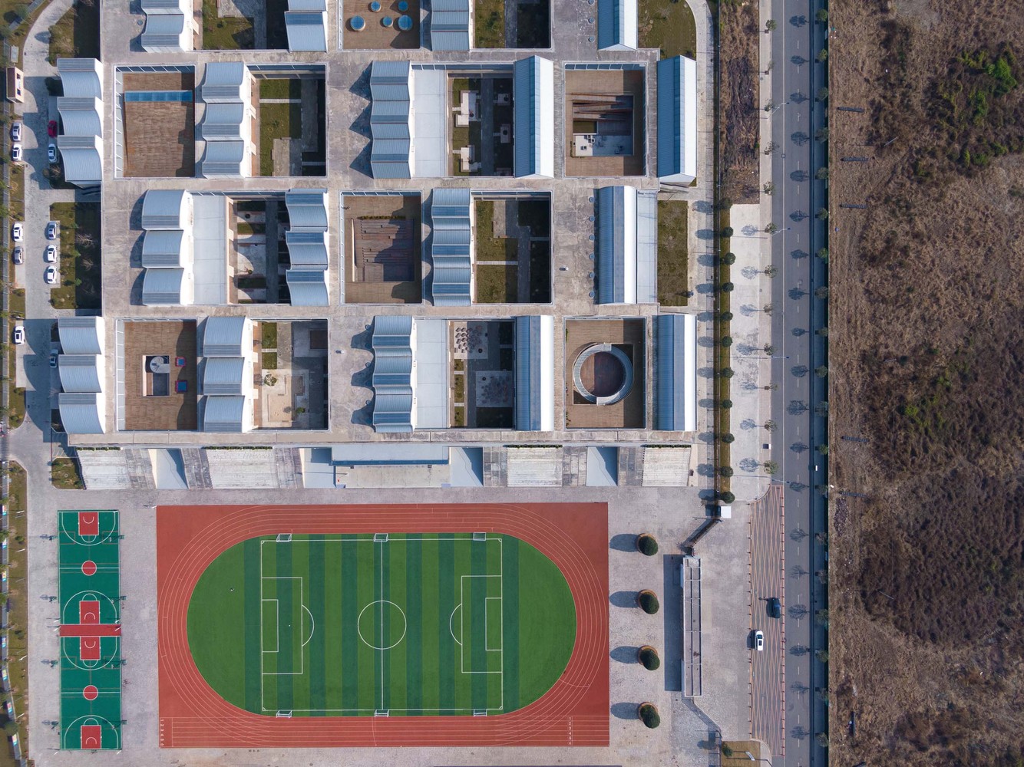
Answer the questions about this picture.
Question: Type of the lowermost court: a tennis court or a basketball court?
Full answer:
It turns out the lowermost court is a basketball court.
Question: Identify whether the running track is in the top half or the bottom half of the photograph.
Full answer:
It is in the bottom half that the running track appears.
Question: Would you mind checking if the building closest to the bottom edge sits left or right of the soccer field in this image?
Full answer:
The soccer field has the building closest to the bottom edge on its right side.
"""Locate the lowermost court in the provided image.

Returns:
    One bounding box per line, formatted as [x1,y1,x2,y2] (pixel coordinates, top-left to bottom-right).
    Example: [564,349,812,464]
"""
[58,636,122,750]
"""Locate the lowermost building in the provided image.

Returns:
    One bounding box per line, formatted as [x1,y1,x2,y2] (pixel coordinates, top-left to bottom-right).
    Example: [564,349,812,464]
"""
[681,557,701,700]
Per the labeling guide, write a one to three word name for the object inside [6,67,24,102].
shed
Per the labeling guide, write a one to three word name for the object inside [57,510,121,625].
basketball court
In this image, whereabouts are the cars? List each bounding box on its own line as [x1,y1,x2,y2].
[48,120,58,139]
[771,598,780,618]
[48,143,58,162]
[12,143,23,162]
[48,244,58,263]
[13,246,24,264]
[754,631,764,651]
[48,220,58,239]
[49,349,59,368]
[47,266,57,284]
[13,222,23,241]
[14,326,25,345]
[11,123,22,141]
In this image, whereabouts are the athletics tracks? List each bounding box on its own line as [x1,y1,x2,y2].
[156,503,609,748]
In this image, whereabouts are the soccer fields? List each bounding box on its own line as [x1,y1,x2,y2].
[187,533,576,717]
